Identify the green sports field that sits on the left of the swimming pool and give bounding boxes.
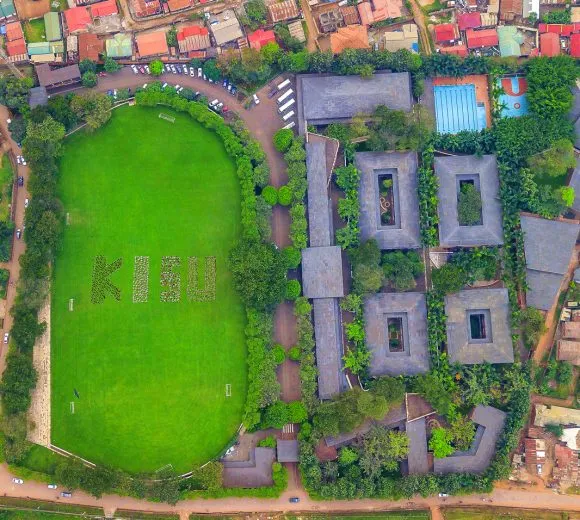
[49,100,253,481]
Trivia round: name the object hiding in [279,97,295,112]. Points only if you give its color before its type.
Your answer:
white vehicle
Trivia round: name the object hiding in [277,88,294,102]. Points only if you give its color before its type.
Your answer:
white vehicle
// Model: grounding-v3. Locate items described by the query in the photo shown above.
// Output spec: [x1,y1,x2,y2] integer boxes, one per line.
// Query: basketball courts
[497,75,534,119]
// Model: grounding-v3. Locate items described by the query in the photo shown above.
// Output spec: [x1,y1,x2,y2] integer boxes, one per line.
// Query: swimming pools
[432,74,490,137]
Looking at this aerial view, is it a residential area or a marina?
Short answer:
residential area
